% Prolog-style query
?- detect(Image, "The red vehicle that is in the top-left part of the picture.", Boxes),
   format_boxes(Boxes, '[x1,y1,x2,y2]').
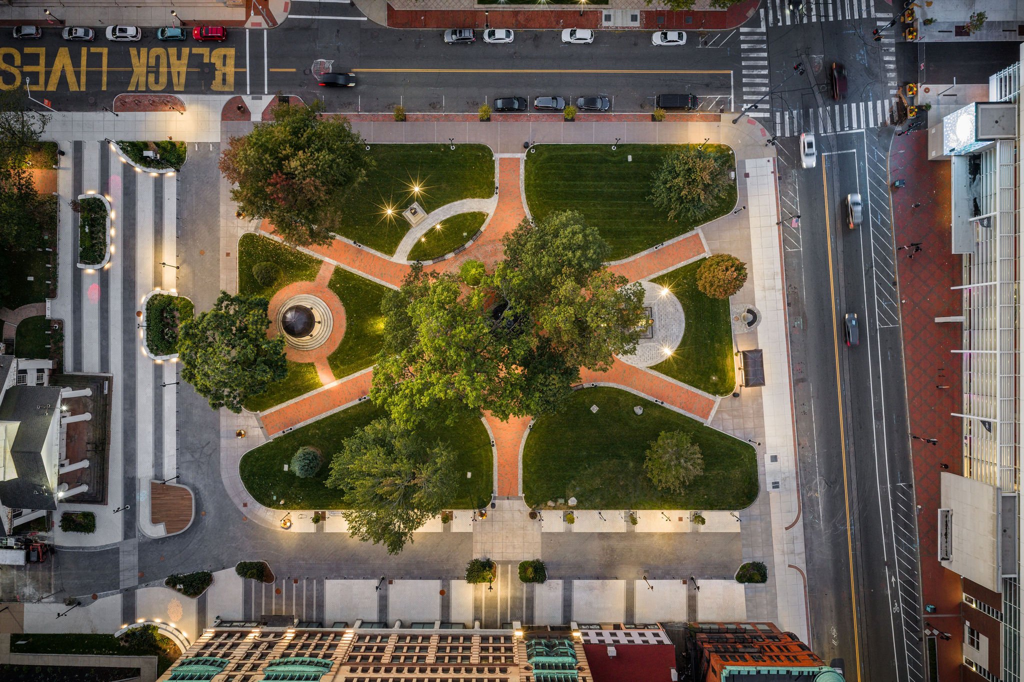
[190,22,226,41]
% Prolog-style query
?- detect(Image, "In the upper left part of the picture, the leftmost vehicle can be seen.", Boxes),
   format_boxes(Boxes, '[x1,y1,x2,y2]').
[9,22,40,39]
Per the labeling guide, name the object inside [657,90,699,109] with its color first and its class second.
black vehicle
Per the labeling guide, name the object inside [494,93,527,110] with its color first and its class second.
black car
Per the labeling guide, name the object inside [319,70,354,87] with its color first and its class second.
black car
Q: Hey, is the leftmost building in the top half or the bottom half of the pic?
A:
bottom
